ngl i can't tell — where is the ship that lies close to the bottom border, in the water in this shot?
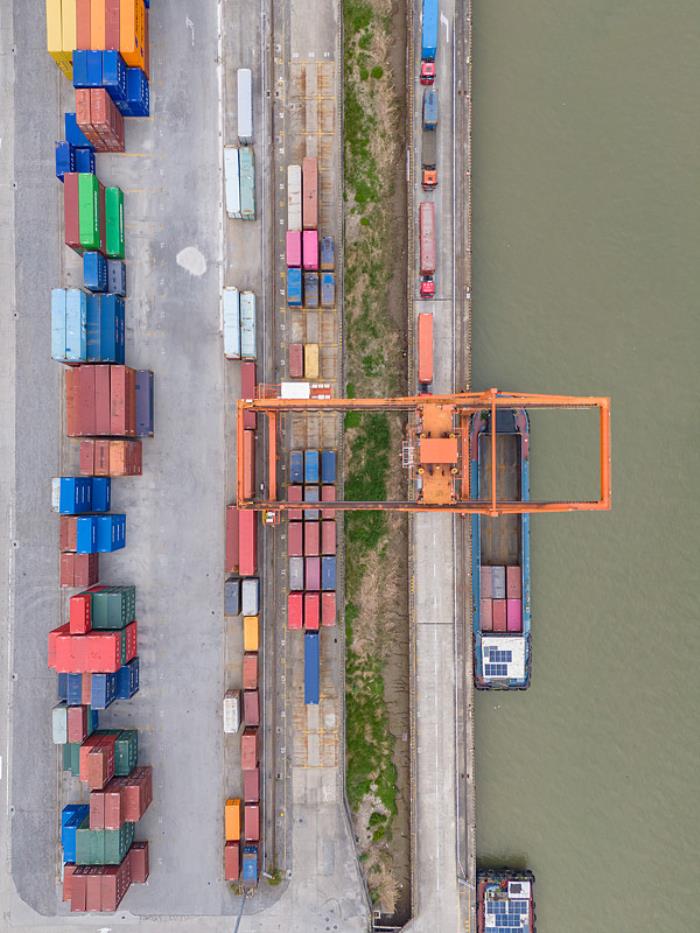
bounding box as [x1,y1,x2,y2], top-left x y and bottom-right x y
[476,865,537,933]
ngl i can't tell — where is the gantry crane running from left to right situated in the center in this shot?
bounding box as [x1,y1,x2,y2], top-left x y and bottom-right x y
[239,383,610,538]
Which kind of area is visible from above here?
port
